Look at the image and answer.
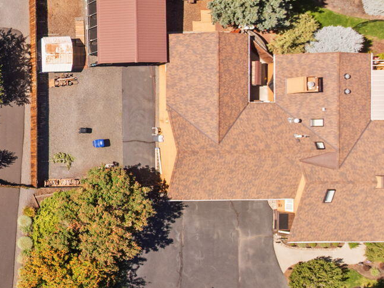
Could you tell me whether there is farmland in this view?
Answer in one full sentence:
No, the scene doesn't show any farmland.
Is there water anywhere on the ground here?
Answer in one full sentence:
No, water can't be seen anywhere here.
